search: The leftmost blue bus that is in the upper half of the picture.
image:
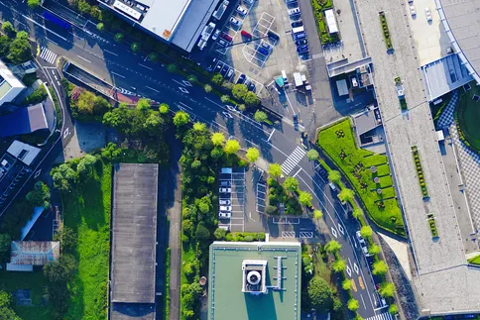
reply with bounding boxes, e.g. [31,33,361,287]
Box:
[42,9,70,30]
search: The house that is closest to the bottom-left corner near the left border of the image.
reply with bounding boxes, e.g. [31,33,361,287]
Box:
[6,241,61,272]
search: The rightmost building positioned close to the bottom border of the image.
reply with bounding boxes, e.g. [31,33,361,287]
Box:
[209,230,301,320]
